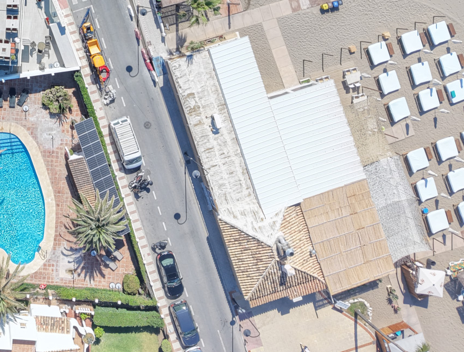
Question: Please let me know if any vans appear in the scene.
Yes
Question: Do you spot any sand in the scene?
Yes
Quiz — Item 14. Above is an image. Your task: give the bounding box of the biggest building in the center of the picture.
[157,37,404,310]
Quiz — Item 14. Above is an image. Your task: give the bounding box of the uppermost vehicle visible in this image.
[82,21,98,47]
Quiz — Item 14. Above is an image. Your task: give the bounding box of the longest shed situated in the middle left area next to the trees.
[62,142,99,216]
